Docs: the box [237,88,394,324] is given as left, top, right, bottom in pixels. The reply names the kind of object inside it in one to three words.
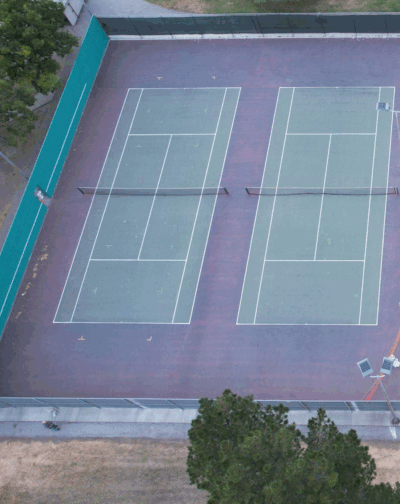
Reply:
tennis court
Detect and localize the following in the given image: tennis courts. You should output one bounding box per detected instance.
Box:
[52,88,242,338]
[237,88,394,324]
